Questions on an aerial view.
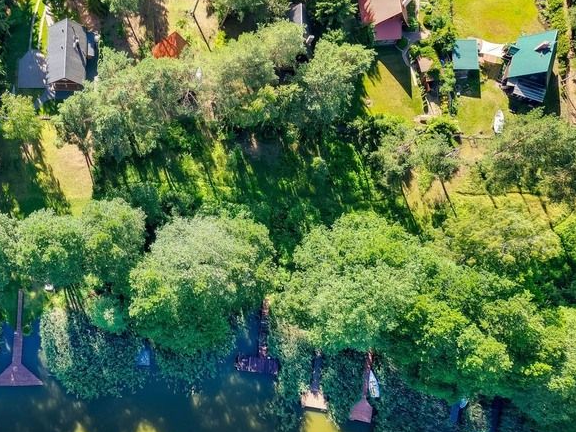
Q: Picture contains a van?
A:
No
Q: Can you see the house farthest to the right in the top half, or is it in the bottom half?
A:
top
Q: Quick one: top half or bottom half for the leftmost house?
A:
top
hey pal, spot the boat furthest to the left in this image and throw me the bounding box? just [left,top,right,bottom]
[369,370,381,399]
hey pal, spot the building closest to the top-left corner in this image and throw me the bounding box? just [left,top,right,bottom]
[46,17,95,85]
